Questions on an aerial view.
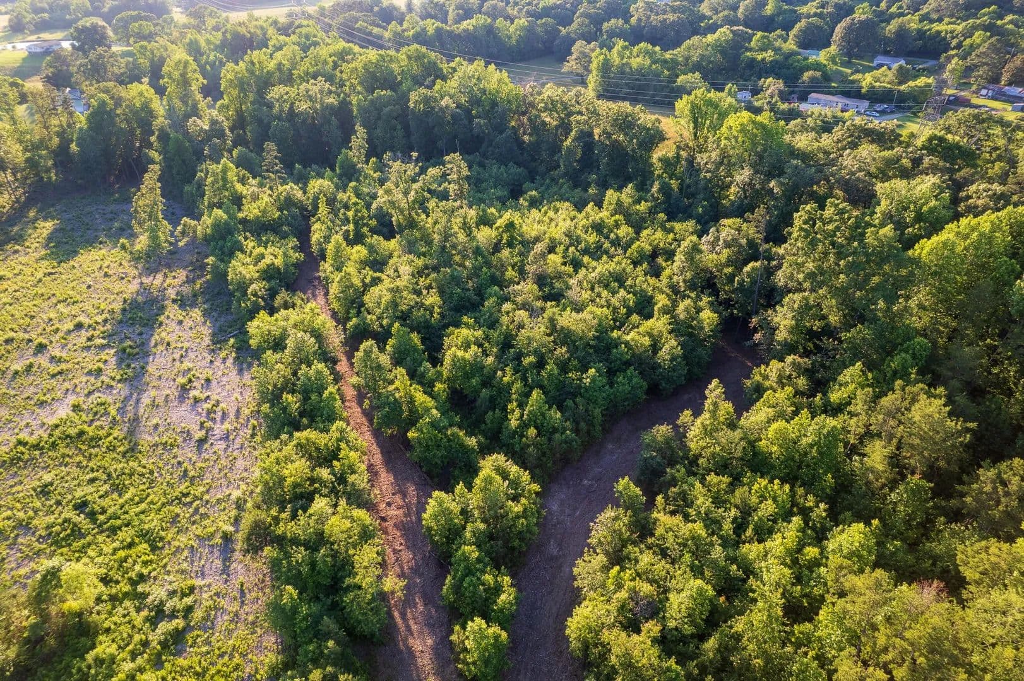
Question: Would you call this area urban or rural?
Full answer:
The area shown here is rural.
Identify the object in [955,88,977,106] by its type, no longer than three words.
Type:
barn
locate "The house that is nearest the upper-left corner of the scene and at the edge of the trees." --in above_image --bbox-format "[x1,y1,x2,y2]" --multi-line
[24,35,61,51]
